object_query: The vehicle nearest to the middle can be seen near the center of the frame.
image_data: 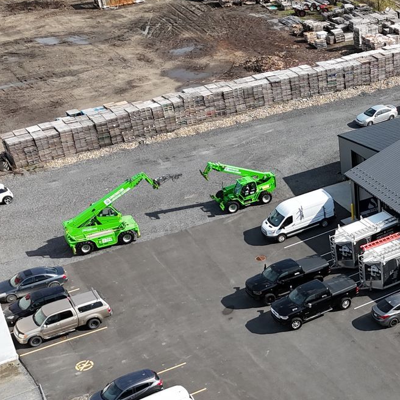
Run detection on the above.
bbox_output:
[187,165,275,217]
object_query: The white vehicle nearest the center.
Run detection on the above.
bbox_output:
[262,186,337,242]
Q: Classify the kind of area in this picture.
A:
parking lot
